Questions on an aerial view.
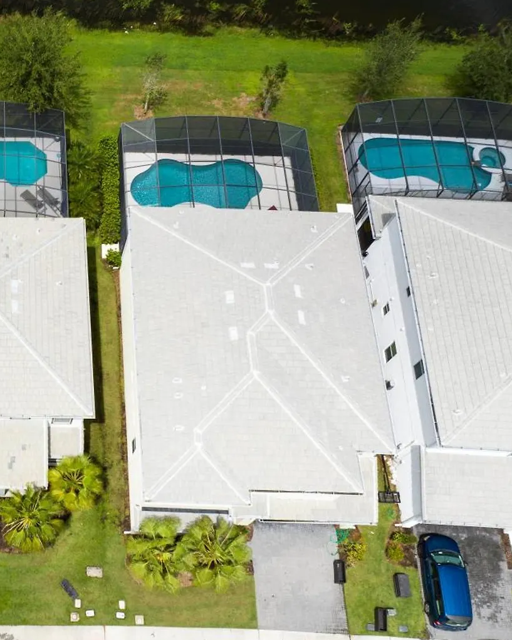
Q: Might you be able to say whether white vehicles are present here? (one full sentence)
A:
No, the picture doesn't show any white vehicle.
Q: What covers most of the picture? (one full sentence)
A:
The bulk of the photo consists of buildings.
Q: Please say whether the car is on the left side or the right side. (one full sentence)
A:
The car is on the right side of the image.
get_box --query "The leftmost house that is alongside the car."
[121,206,397,546]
